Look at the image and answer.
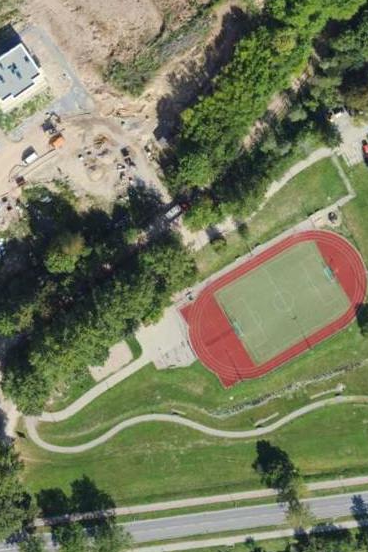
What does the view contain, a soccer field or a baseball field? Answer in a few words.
soccer field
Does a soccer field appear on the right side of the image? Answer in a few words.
Yes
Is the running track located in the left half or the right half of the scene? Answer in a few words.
right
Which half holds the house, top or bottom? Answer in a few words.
top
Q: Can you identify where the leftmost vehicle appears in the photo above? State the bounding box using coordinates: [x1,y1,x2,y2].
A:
[22,150,39,164]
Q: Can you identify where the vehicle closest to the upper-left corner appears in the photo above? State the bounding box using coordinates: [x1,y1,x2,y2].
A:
[41,113,62,133]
